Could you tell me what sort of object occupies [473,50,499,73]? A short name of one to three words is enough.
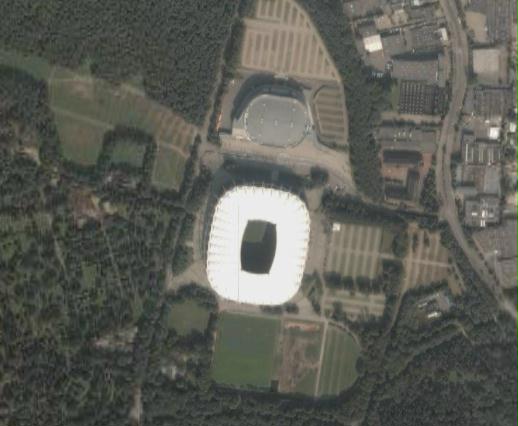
building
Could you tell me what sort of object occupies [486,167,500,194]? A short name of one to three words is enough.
building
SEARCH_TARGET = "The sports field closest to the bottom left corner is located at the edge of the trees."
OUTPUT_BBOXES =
[212,313,280,389]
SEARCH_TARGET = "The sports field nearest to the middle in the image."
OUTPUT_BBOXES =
[241,220,276,274]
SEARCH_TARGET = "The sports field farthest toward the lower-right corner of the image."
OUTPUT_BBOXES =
[319,324,360,396]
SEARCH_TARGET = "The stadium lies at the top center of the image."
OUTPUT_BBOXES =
[233,75,312,148]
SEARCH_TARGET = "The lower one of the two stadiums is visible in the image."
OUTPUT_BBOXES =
[204,183,313,309]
